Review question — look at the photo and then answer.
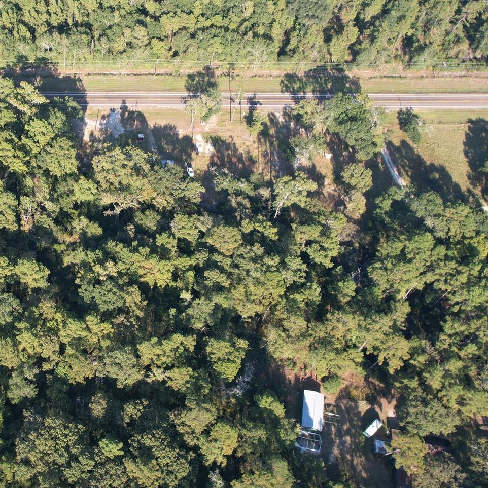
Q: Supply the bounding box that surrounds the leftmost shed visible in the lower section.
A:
[298,391,323,434]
